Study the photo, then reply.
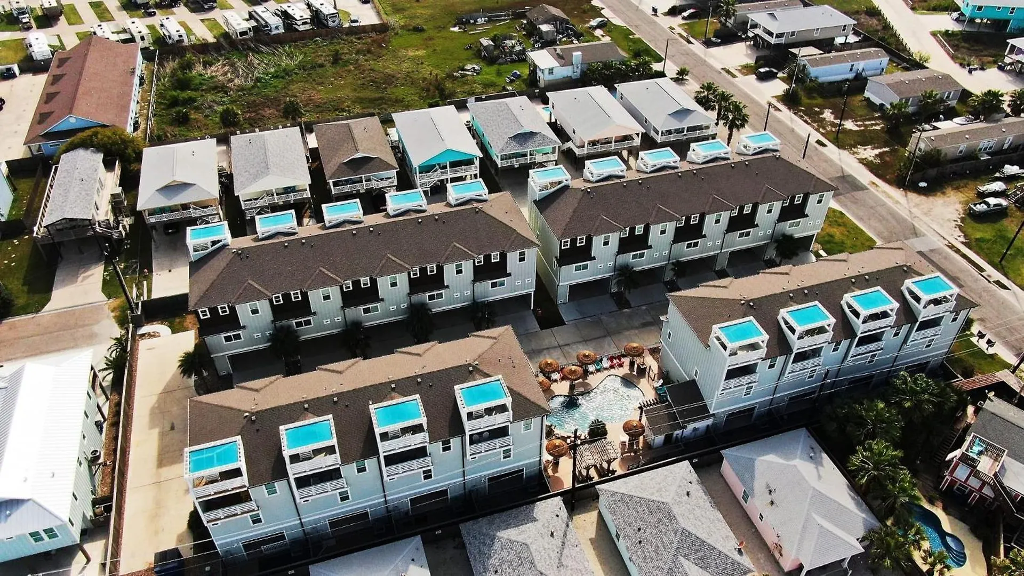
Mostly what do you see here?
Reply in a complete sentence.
The bulk of the photo consists of buildings.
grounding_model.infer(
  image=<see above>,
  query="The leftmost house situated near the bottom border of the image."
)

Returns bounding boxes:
[0,349,105,576]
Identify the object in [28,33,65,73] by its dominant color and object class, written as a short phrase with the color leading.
white camper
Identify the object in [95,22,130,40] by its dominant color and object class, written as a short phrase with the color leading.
white camper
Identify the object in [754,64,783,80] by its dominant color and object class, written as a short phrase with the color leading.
black car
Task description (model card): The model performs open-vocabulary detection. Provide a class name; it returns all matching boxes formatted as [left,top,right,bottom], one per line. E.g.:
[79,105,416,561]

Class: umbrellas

[560,367,583,391]
[575,353,598,376]
[548,441,569,467]
[621,422,645,448]
[538,379,555,397]
[537,361,560,381]
[622,346,645,368]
